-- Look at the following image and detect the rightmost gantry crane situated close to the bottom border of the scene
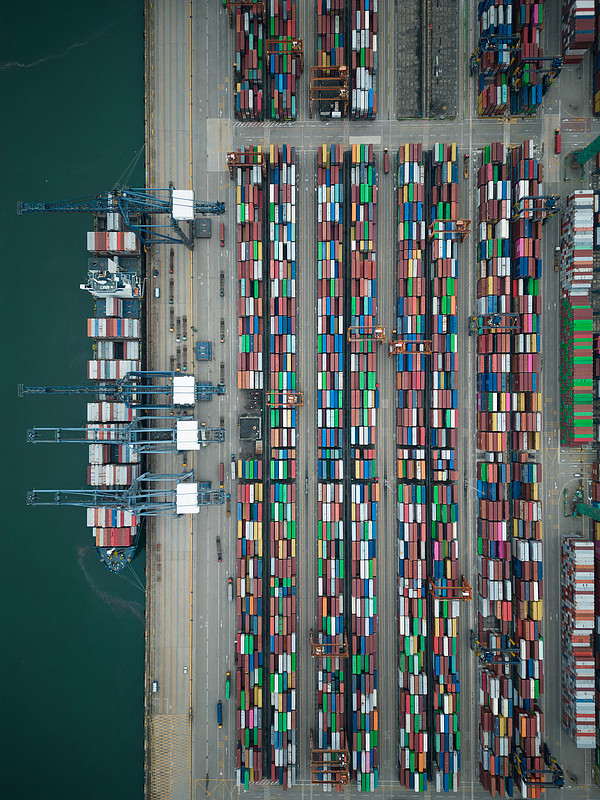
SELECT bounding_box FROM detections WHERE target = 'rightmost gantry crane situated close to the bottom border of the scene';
[508,742,563,784]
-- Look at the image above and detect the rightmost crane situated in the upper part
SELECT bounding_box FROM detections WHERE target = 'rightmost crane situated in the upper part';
[565,129,600,181]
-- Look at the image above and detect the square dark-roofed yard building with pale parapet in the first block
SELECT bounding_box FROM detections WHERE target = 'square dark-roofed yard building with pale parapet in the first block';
[243,415,263,440]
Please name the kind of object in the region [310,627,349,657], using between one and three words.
container crane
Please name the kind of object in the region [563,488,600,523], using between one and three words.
crane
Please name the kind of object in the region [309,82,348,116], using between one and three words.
container crane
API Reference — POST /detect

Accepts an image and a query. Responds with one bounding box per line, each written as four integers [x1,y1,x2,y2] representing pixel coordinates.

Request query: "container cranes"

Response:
[470,35,520,77]
[264,390,305,409]
[509,196,560,227]
[16,187,226,252]
[226,0,266,30]
[27,462,225,516]
[310,627,349,657]
[469,313,519,337]
[226,152,266,181]
[264,40,305,75]
[310,762,349,784]
[508,57,562,97]
[426,573,473,599]
[16,369,226,413]
[309,82,348,116]
[310,729,349,764]
[426,220,473,245]
[344,327,388,347]
[470,629,520,663]
[27,409,225,455]
[309,64,348,92]
[383,341,432,359]
[508,742,563,784]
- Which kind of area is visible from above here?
port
